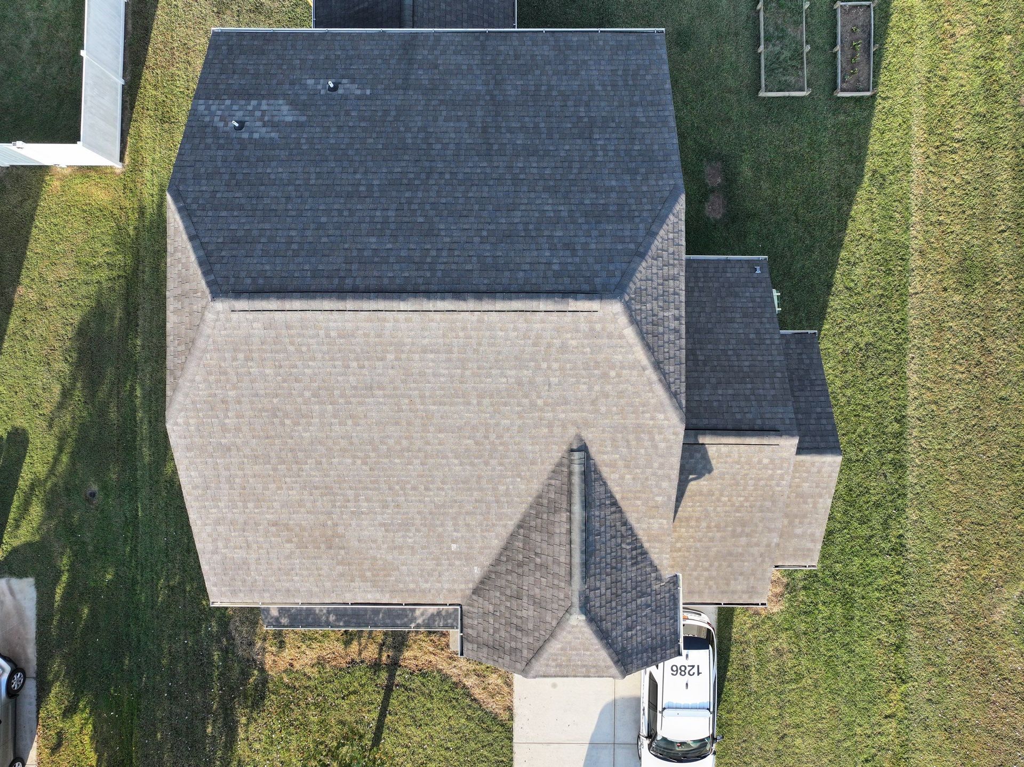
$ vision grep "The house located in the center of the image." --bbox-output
[165,0,843,683]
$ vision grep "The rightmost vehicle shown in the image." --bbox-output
[635,611,727,767]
